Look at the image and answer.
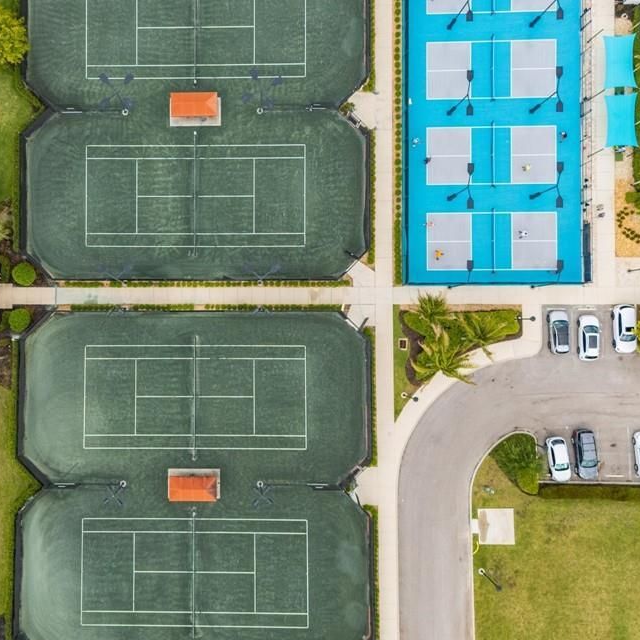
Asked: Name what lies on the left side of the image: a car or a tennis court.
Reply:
tennis court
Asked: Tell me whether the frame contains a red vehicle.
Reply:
No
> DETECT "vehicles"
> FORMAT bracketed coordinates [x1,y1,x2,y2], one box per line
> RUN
[571,430,598,477]
[544,436,570,480]
[631,431,640,477]
[610,306,636,352]
[575,316,600,359]
[545,310,571,353]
